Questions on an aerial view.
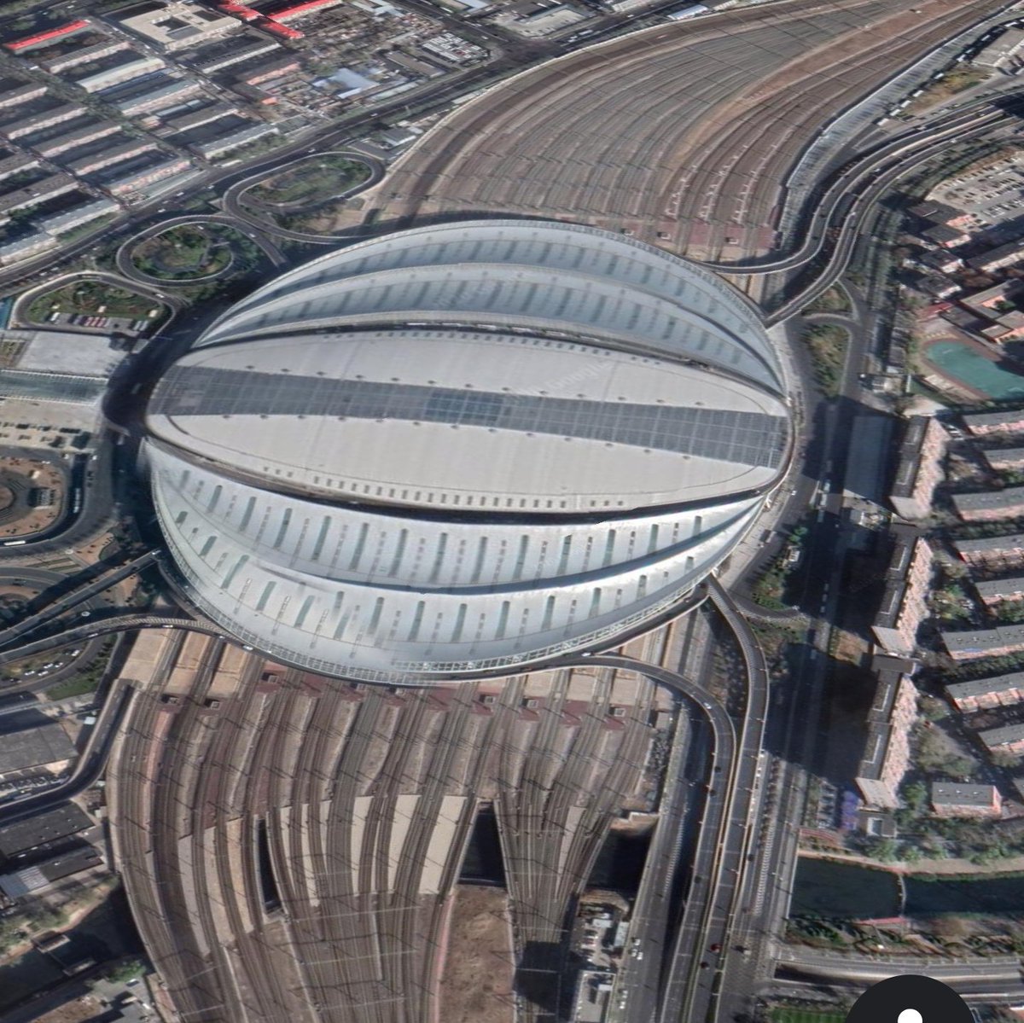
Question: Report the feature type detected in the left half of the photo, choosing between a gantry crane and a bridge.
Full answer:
The feature located in the left half of the photo is a bridge.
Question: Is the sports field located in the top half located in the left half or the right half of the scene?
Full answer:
You can find the sports field located in the top half on the right side of the picture.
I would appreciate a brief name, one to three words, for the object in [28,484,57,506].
building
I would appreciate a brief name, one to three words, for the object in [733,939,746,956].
vehicle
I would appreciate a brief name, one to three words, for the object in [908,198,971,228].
building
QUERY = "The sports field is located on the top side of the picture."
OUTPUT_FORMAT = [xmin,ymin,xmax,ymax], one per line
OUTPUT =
[916,333,1024,406]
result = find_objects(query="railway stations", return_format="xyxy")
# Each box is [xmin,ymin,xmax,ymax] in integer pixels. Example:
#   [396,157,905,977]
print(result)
[145,218,793,686]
